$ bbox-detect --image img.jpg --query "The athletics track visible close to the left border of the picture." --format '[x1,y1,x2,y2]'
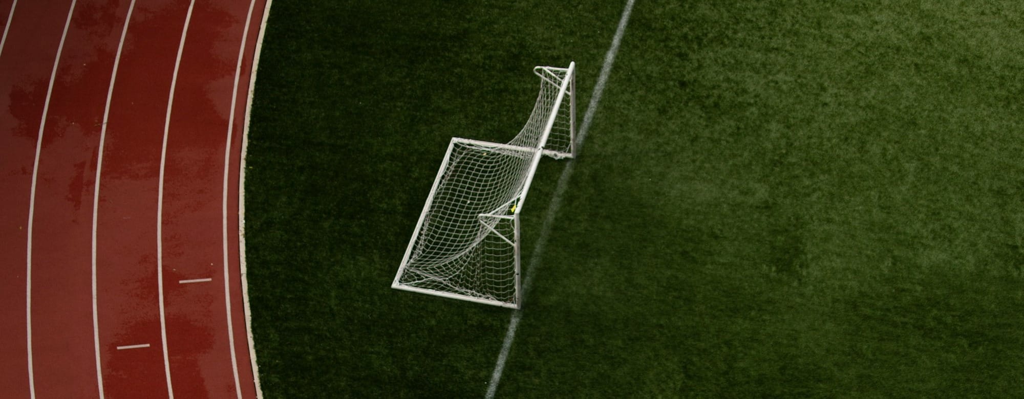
[0,0,266,399]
